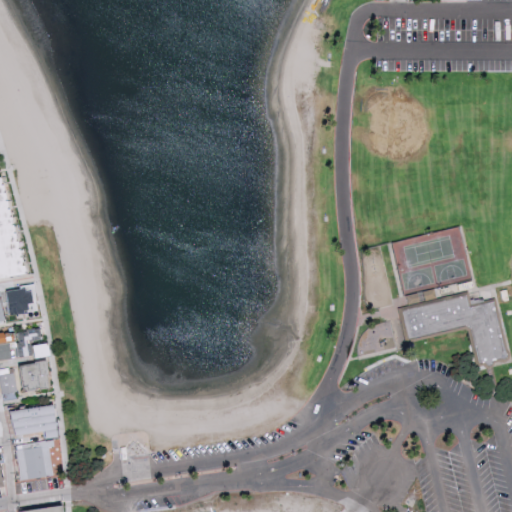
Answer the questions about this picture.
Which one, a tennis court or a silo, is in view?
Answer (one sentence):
Looking from above, you can make out a tennis court.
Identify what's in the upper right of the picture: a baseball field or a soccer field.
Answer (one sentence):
There is a baseball field in the upper right of the picture.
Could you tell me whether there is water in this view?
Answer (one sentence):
Yes, there's water in this view.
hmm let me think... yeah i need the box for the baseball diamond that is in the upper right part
[354,88,428,158]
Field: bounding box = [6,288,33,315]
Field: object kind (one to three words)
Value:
house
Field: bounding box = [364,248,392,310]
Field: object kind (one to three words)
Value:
sports court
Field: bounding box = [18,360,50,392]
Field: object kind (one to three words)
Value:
building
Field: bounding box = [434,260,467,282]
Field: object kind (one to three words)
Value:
basketball court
